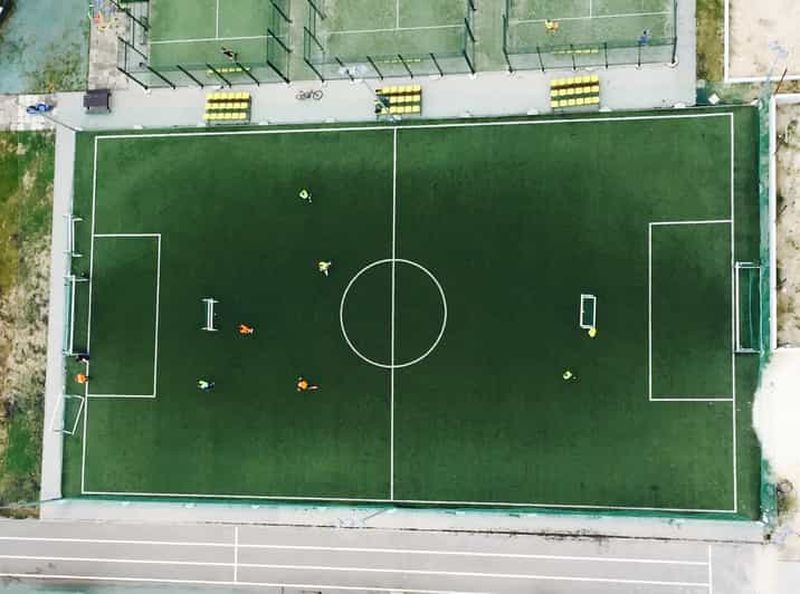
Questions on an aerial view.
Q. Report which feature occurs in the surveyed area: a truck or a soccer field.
soccer field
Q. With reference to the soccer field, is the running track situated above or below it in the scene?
below it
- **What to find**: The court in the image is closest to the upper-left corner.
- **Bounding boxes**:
[0,0,91,95]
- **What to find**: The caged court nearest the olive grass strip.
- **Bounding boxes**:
[511,0,673,71]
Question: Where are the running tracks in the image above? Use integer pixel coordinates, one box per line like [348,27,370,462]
[0,517,769,594]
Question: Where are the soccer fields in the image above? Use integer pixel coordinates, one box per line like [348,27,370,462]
[62,106,762,521]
